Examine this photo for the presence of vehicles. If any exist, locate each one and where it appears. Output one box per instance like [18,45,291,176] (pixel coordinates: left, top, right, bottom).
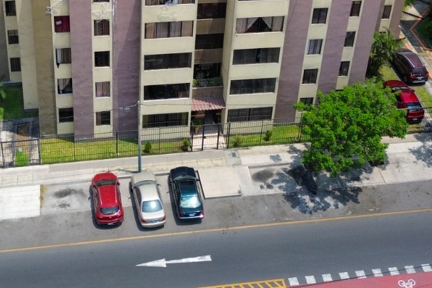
[86,171,121,225]
[384,40,425,78]
[382,77,426,116]
[130,168,166,224]
[173,164,212,220]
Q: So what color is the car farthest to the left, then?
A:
red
